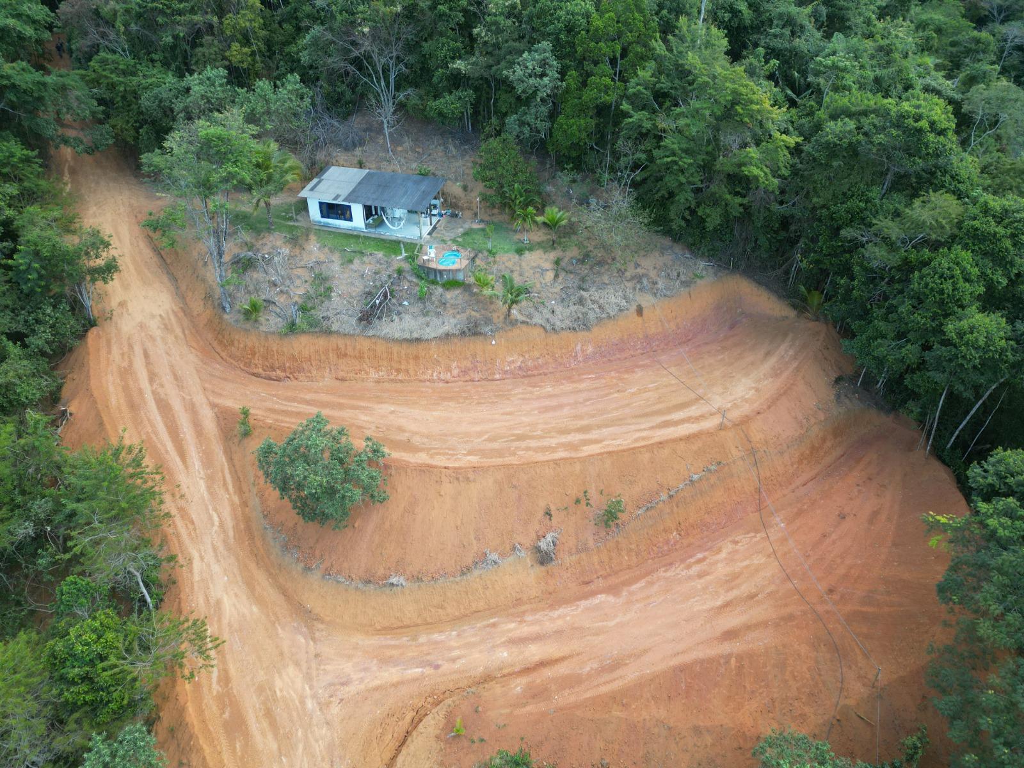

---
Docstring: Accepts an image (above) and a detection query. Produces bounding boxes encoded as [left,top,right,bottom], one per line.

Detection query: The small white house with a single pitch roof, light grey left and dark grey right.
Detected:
[301,165,446,239]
